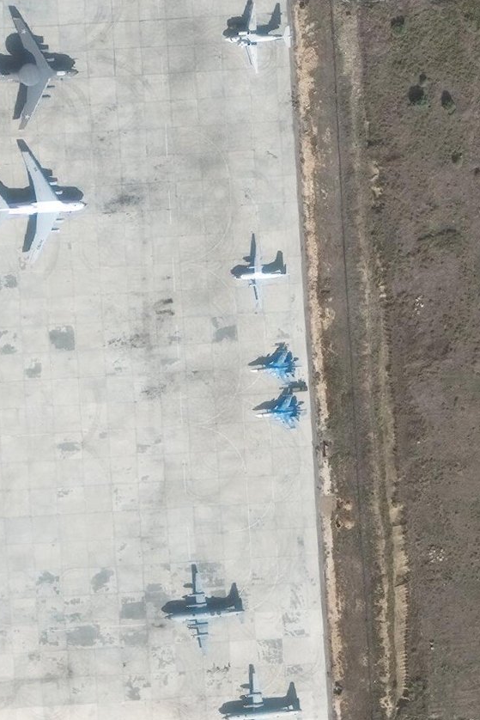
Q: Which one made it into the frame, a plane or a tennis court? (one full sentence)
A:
There is a plane in the scene.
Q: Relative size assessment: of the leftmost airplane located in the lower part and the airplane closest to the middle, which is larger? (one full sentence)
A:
The leftmost airplane located in the lower part takes up more space than the airplane closest to the middle does.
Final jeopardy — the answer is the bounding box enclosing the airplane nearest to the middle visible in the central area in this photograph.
[251,350,300,384]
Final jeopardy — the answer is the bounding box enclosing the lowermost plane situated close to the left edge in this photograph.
[0,153,88,264]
